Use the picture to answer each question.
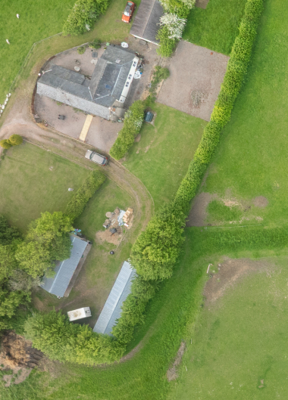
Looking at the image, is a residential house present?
Yes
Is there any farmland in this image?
Yes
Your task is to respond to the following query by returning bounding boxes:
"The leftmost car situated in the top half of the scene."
[85,149,109,166]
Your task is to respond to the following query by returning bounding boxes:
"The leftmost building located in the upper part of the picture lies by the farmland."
[38,45,140,121]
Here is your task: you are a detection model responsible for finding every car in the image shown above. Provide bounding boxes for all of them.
[85,149,109,166]
[122,1,136,22]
